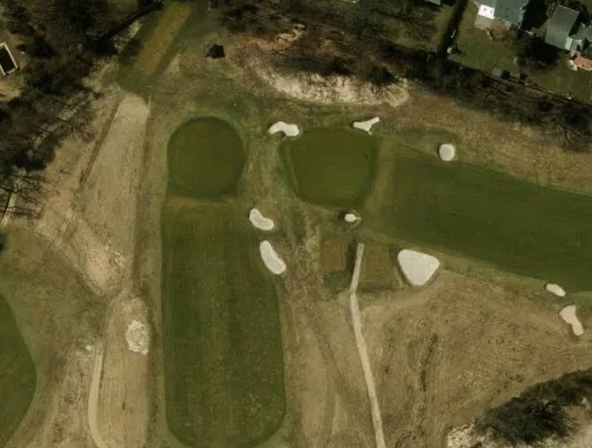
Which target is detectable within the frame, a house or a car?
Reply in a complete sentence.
The image shows a house.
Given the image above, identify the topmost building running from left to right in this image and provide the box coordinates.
[478,0,529,23]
